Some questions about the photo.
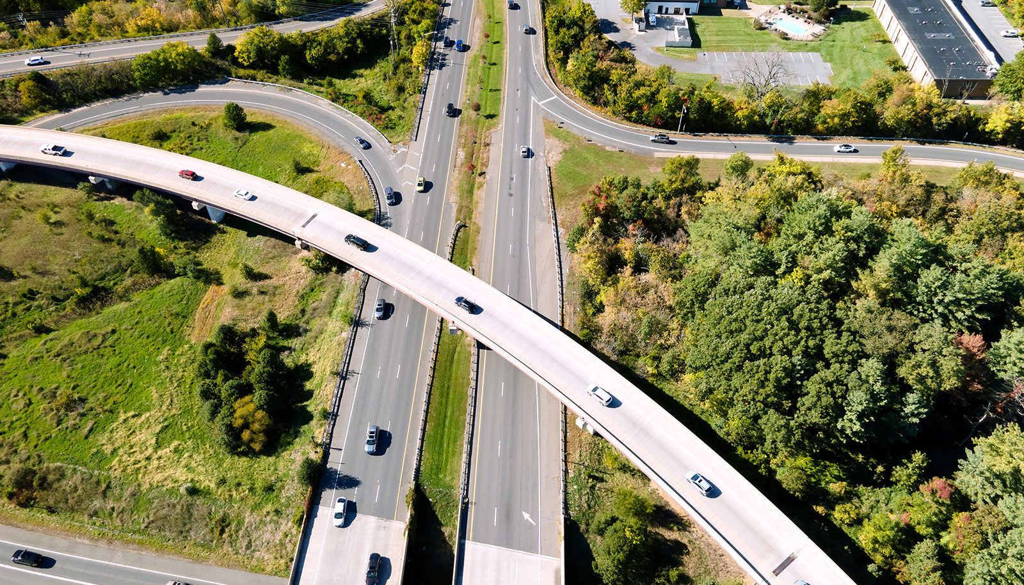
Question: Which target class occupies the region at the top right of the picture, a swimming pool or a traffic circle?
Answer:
swimming pool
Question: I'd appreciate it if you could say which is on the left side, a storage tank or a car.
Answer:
car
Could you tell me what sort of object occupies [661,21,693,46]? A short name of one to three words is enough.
shed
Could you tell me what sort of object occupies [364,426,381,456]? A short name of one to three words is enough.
car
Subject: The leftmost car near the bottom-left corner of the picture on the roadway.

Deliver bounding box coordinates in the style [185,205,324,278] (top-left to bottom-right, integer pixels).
[10,550,44,568]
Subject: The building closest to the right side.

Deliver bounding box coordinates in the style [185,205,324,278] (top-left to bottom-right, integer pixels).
[868,0,997,99]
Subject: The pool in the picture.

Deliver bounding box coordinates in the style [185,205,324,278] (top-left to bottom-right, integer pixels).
[766,7,827,40]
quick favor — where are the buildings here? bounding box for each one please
[868,0,997,99]
[661,21,693,46]
[644,0,702,13]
